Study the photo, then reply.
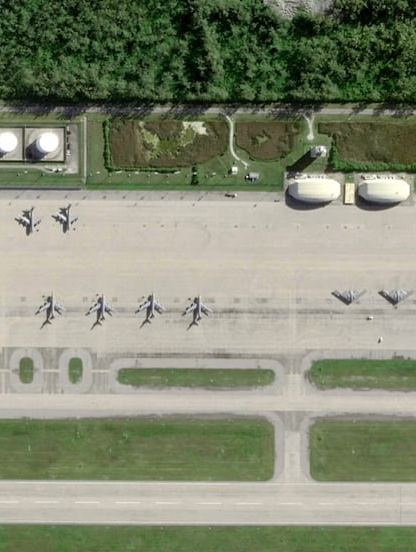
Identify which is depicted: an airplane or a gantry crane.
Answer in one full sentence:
Looking from above, you can make out an airplane.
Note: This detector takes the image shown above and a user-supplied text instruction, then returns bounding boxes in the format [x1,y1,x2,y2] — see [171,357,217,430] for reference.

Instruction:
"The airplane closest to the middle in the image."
[186,294,213,321]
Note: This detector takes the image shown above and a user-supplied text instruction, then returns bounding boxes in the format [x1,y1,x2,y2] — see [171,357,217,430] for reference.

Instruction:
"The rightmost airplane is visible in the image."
[383,291,412,303]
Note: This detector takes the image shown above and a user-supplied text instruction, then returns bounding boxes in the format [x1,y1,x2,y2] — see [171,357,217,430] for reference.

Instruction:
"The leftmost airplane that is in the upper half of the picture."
[18,206,47,233]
